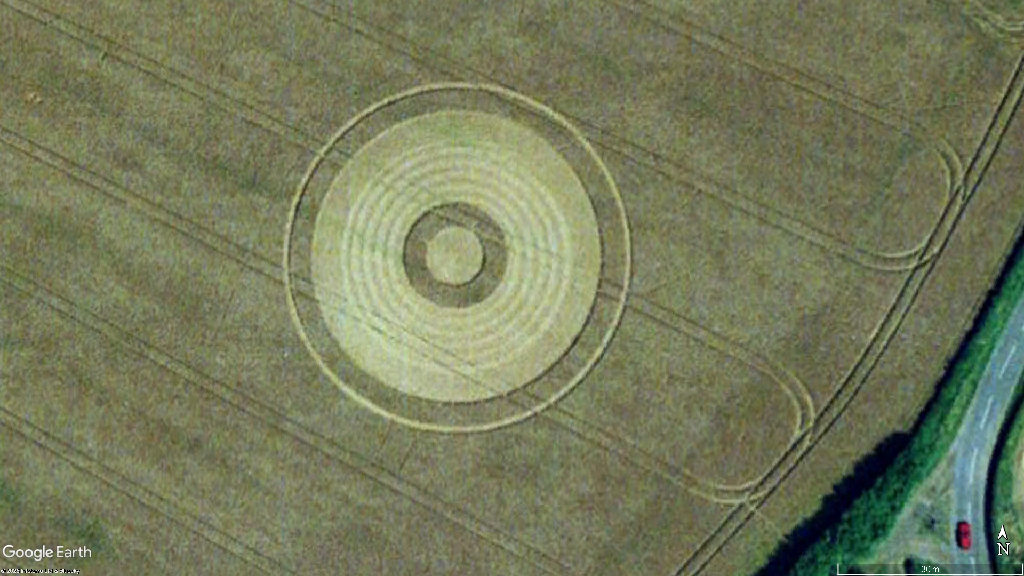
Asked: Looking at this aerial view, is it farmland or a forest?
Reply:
farmland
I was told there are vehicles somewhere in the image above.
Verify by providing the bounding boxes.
[960,524,973,551]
